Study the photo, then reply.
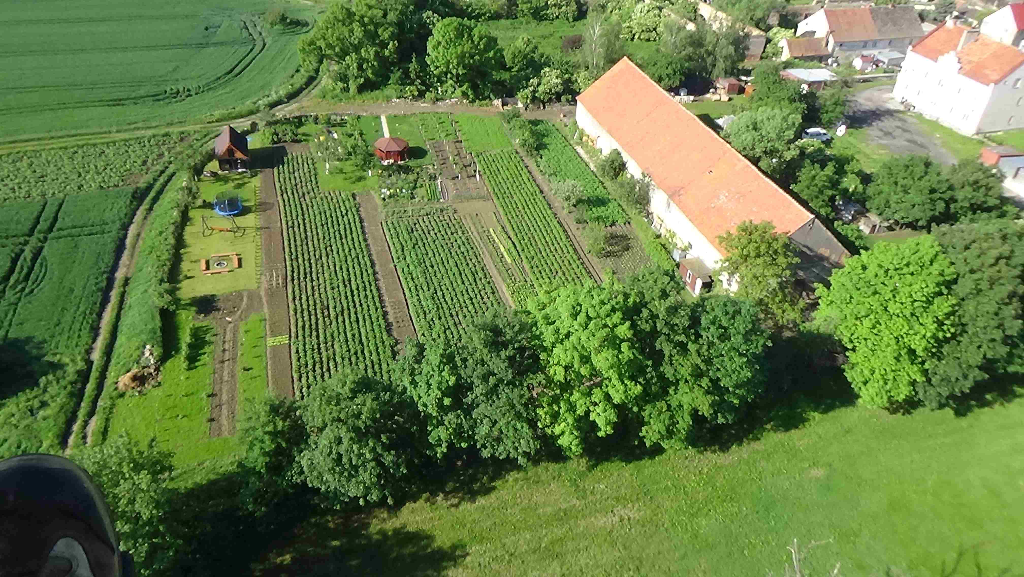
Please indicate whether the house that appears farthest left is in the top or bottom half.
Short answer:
top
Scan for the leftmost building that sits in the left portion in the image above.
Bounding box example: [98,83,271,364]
[214,121,253,173]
